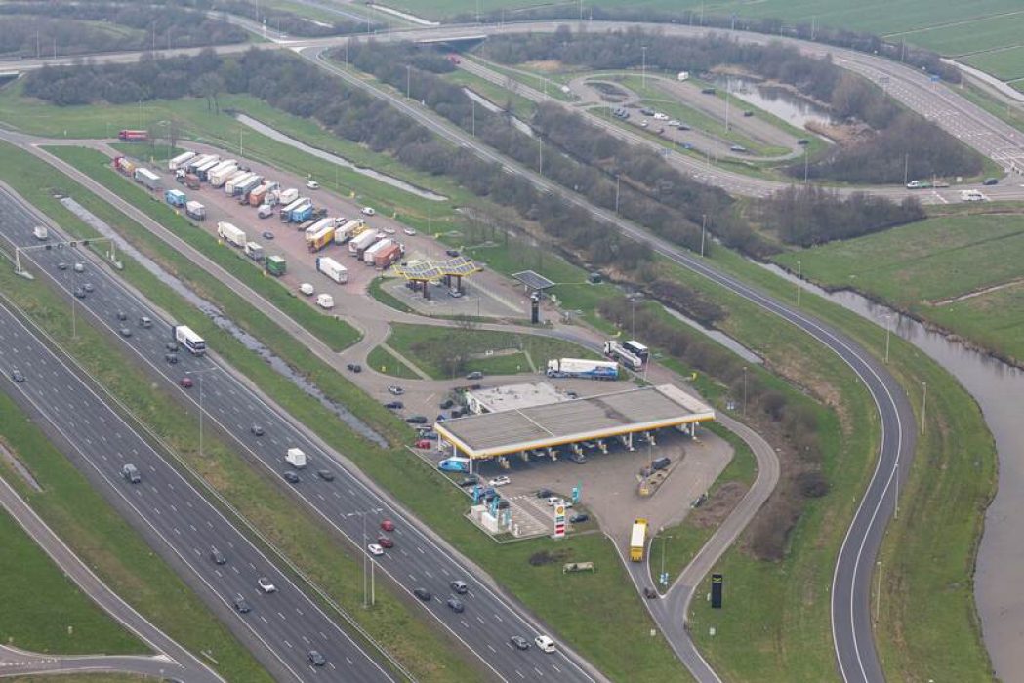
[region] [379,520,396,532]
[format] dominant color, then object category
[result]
red vehicle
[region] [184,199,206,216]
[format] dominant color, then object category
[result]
white vehicle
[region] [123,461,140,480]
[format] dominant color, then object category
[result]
gray car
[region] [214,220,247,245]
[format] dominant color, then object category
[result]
white truck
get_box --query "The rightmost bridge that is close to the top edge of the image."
[403,20,497,44]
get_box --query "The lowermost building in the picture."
[465,380,586,416]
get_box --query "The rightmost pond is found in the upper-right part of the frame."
[706,76,837,140]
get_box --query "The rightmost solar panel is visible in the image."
[513,270,553,287]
